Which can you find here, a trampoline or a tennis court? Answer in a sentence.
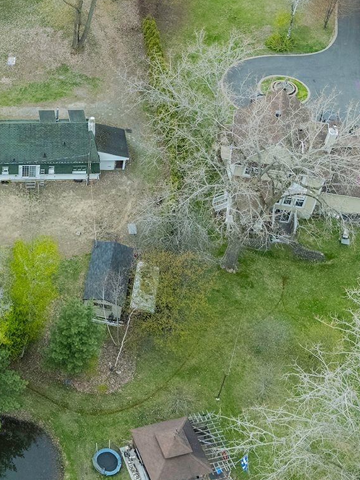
There is a trampoline in the scene.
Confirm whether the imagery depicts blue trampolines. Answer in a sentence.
Yes, the frame does contain a blue trampoline.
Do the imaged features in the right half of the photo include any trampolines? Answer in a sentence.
No, there's no trampoline to be seen in the right half of the photo.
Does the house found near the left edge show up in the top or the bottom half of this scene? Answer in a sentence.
The top half of the photo is where the house found near the left edge is.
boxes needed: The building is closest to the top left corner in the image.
[0,108,139,195]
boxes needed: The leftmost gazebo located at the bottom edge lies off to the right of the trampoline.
[130,417,213,480]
